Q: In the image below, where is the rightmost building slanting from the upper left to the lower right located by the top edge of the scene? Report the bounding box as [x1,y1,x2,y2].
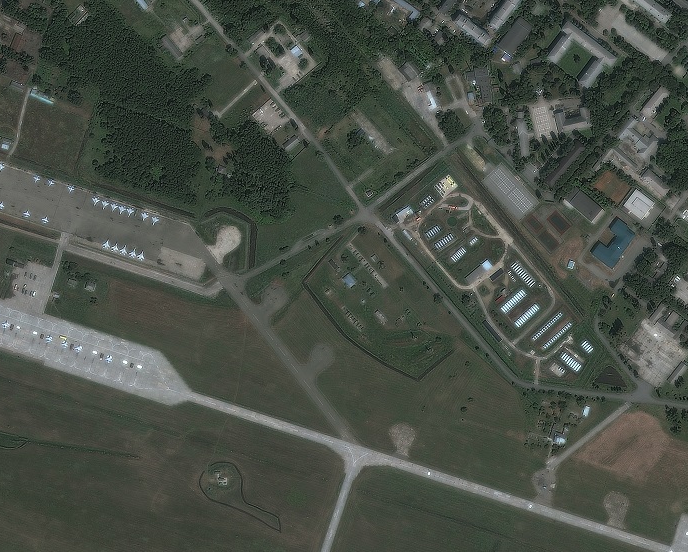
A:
[634,0,672,24]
